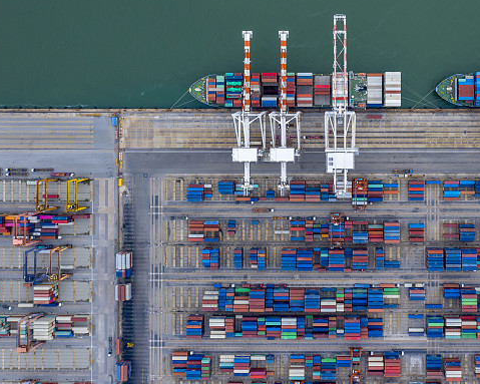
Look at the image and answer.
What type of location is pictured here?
port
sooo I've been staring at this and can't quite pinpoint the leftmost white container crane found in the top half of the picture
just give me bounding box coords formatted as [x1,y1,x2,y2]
[232,30,269,197]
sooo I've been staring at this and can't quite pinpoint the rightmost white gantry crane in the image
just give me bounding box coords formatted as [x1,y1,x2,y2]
[321,14,360,199]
